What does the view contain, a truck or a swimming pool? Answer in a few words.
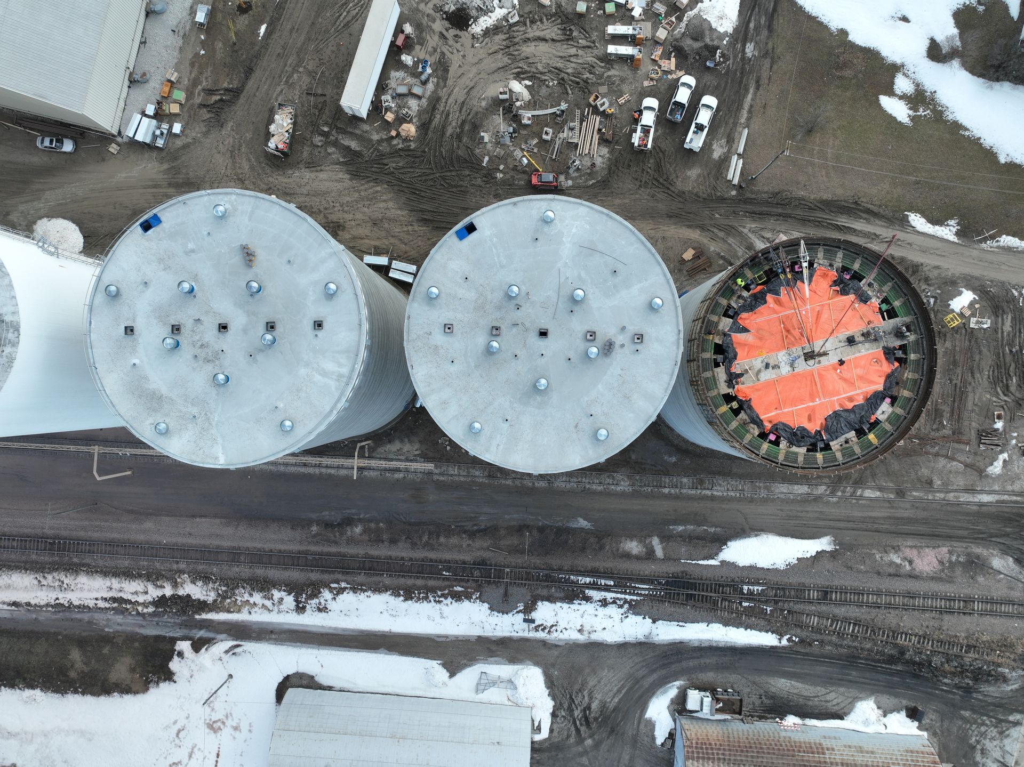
truck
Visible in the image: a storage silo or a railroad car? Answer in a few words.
storage silo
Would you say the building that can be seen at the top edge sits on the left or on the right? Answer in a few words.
left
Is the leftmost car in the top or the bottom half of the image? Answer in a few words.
top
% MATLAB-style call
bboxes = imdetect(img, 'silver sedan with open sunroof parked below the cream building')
[37,135,78,155]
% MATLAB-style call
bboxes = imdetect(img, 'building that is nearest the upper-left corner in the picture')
[0,0,150,135]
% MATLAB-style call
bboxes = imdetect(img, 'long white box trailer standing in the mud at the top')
[340,0,399,120]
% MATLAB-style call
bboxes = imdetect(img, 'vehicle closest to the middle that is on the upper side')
[531,172,566,193]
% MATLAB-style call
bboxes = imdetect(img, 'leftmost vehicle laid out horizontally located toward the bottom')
[681,685,745,717]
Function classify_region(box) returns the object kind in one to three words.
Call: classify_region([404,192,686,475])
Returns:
silo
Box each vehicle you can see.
[531,172,566,193]
[665,73,696,127]
[683,94,718,158]
[681,685,745,717]
[37,135,78,155]
[629,96,660,156]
